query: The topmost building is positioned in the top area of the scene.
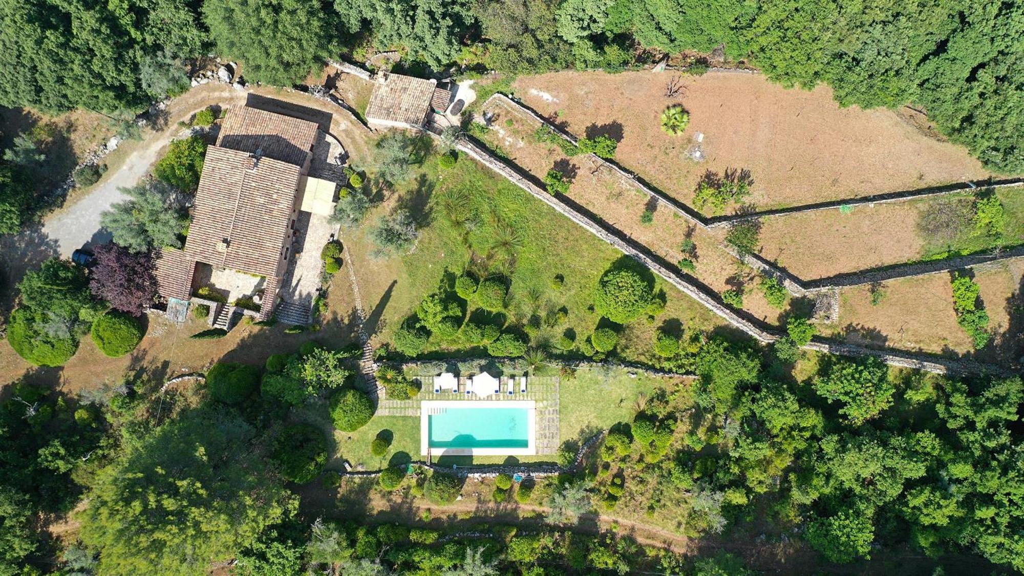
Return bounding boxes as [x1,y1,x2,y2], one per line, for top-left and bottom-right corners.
[364,71,453,129]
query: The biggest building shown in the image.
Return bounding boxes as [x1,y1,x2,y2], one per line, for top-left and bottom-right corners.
[151,104,319,300]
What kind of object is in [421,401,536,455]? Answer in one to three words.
swimming pool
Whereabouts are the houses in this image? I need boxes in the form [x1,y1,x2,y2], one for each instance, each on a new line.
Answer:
[151,104,319,300]
[364,71,453,129]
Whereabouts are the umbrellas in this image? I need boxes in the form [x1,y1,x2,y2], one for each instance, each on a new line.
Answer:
[440,373,456,389]
[473,370,497,399]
